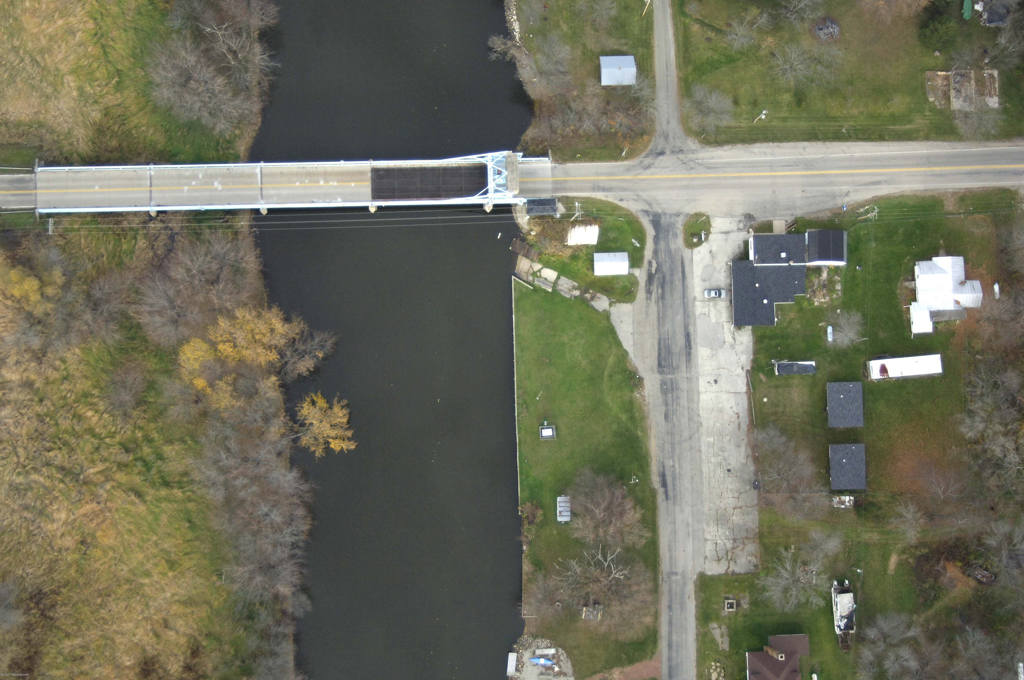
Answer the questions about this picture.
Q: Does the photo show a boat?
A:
Yes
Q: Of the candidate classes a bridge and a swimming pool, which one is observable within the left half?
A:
bridge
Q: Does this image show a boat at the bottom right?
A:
Yes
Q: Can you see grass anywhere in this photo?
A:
Yes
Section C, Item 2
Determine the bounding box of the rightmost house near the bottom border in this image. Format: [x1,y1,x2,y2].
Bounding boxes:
[744,632,809,680]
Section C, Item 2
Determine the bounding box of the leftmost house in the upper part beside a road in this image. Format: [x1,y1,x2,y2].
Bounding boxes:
[526,199,556,217]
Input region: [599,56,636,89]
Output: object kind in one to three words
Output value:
shed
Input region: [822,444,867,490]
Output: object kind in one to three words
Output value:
building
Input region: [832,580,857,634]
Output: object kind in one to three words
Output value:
boat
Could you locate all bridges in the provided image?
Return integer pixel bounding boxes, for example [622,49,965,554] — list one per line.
[32,143,553,234]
